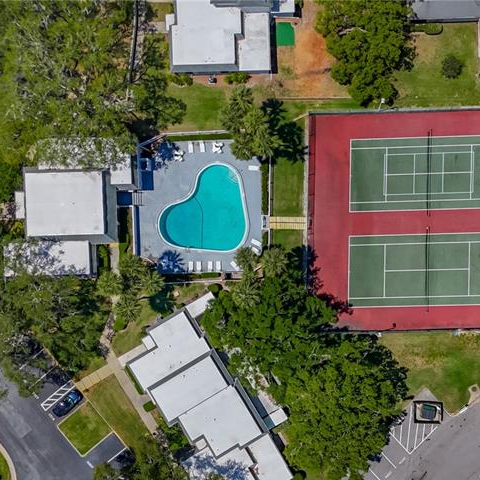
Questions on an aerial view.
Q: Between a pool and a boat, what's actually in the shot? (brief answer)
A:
pool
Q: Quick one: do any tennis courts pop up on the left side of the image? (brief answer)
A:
No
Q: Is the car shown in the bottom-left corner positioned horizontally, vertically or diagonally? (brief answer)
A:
diagonally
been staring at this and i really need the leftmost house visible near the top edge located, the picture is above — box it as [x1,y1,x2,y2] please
[165,0,295,77]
